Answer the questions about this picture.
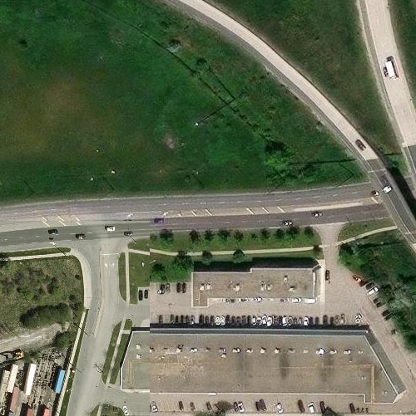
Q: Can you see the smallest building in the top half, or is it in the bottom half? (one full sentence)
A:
The bottom half of the photo is where the smallest building is.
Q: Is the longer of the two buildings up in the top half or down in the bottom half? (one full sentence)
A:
The longer of the two buildings sits in the bottom half of the picture.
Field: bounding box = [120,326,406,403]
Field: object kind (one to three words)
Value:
building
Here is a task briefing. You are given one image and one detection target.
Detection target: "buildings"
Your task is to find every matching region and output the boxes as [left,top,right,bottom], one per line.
[120,326,406,403]
[193,264,322,307]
